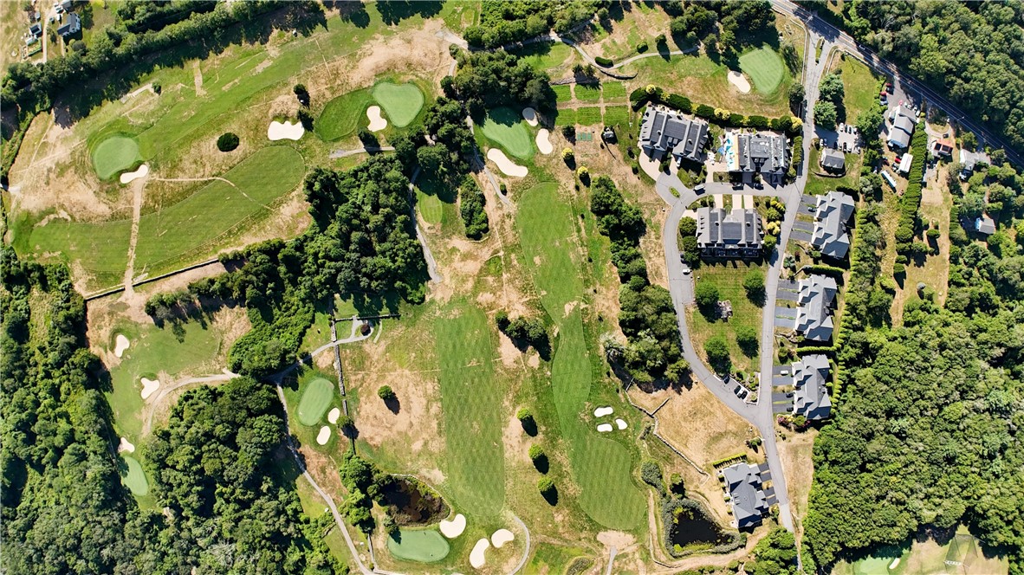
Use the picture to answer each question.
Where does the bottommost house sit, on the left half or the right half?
right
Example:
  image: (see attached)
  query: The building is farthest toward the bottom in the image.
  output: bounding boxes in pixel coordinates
[719,458,768,528]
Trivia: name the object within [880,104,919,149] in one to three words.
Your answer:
building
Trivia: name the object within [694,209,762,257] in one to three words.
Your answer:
house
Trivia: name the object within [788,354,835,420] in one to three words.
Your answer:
house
